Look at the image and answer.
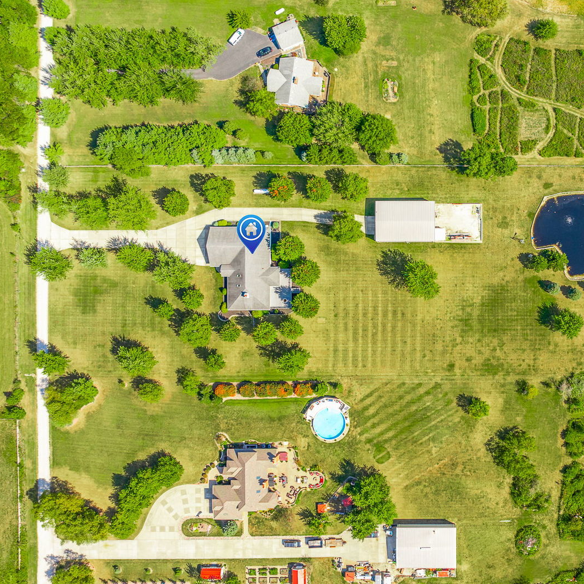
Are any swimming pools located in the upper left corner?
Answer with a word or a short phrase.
No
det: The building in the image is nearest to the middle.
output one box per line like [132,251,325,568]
[207,226,280,310]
